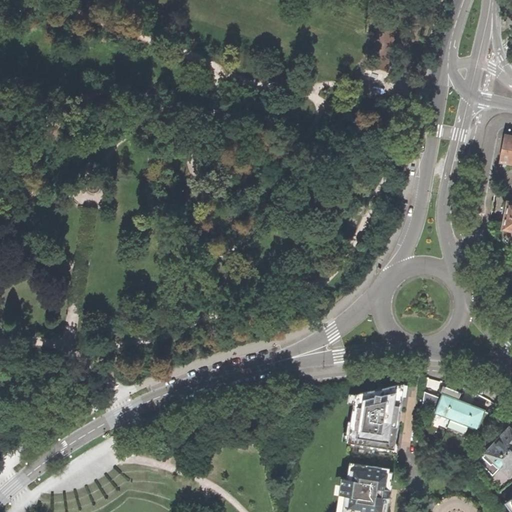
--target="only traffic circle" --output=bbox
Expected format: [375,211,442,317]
[376,260,470,354]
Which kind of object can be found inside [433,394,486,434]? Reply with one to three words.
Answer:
house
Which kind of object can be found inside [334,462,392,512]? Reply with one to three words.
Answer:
house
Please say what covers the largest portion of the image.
trees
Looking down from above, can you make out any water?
No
